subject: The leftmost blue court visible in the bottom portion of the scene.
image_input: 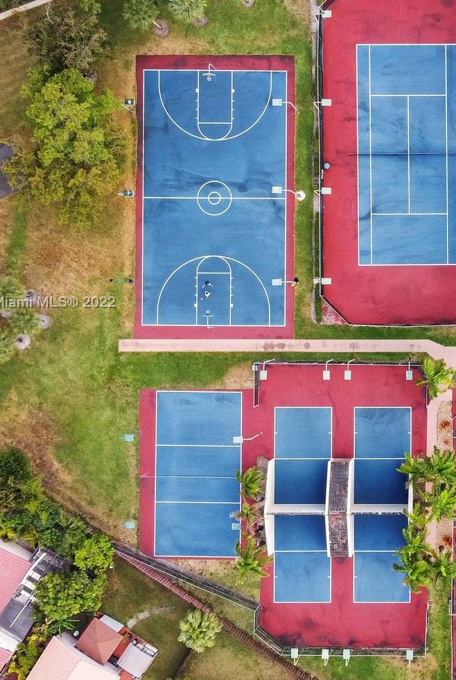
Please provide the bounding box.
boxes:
[140,390,253,560]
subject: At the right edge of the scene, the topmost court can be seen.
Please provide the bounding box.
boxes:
[323,0,456,324]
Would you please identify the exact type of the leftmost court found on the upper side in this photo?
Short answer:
basketball court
